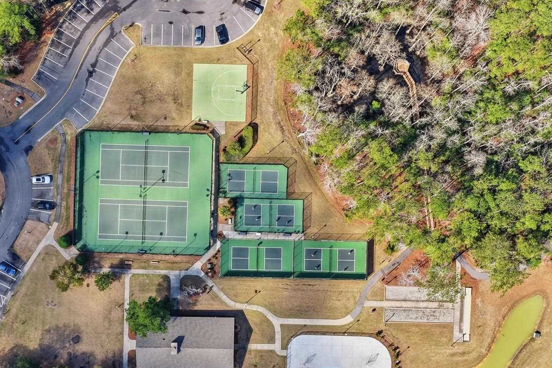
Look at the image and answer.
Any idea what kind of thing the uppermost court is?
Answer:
basketball court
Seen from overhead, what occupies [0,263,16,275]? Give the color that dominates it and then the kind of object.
blue vehicle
